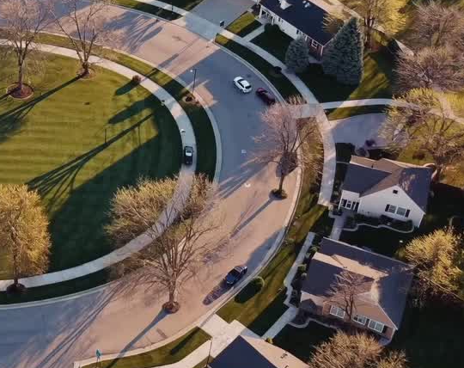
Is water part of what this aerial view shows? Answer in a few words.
No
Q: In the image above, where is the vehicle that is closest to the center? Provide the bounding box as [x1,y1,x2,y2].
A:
[183,144,195,164]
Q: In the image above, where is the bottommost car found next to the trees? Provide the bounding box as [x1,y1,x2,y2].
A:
[221,259,253,287]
